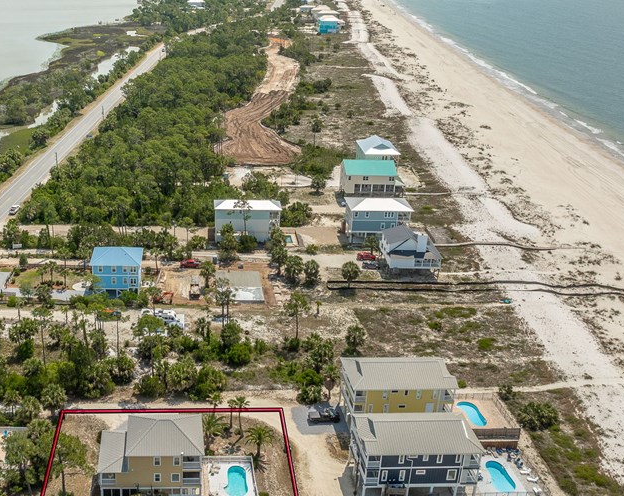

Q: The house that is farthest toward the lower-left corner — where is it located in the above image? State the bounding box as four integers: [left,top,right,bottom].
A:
[97,413,206,496]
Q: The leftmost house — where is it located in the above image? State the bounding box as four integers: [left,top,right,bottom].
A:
[89,246,142,296]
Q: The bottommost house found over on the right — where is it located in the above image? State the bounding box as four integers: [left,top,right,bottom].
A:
[346,409,489,496]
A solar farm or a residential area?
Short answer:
residential area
